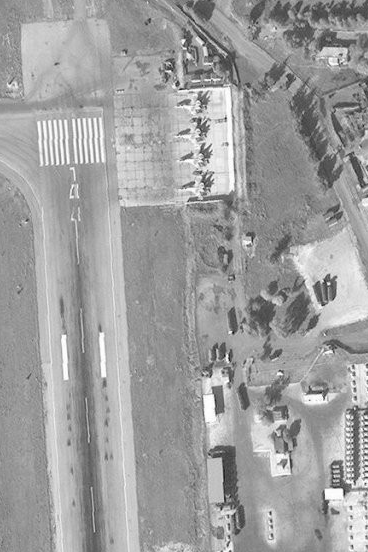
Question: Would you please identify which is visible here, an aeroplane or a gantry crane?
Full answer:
The one in the frame is an aeroplane.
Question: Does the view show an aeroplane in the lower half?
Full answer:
No, no aeroplane appears in the lower half.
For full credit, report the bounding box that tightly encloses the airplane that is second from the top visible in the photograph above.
[179,125,208,146]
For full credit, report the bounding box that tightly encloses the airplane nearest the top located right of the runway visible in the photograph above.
[177,98,207,119]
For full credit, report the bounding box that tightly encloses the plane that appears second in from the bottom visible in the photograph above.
[181,152,210,173]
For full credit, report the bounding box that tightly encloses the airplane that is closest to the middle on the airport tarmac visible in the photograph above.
[181,178,211,199]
